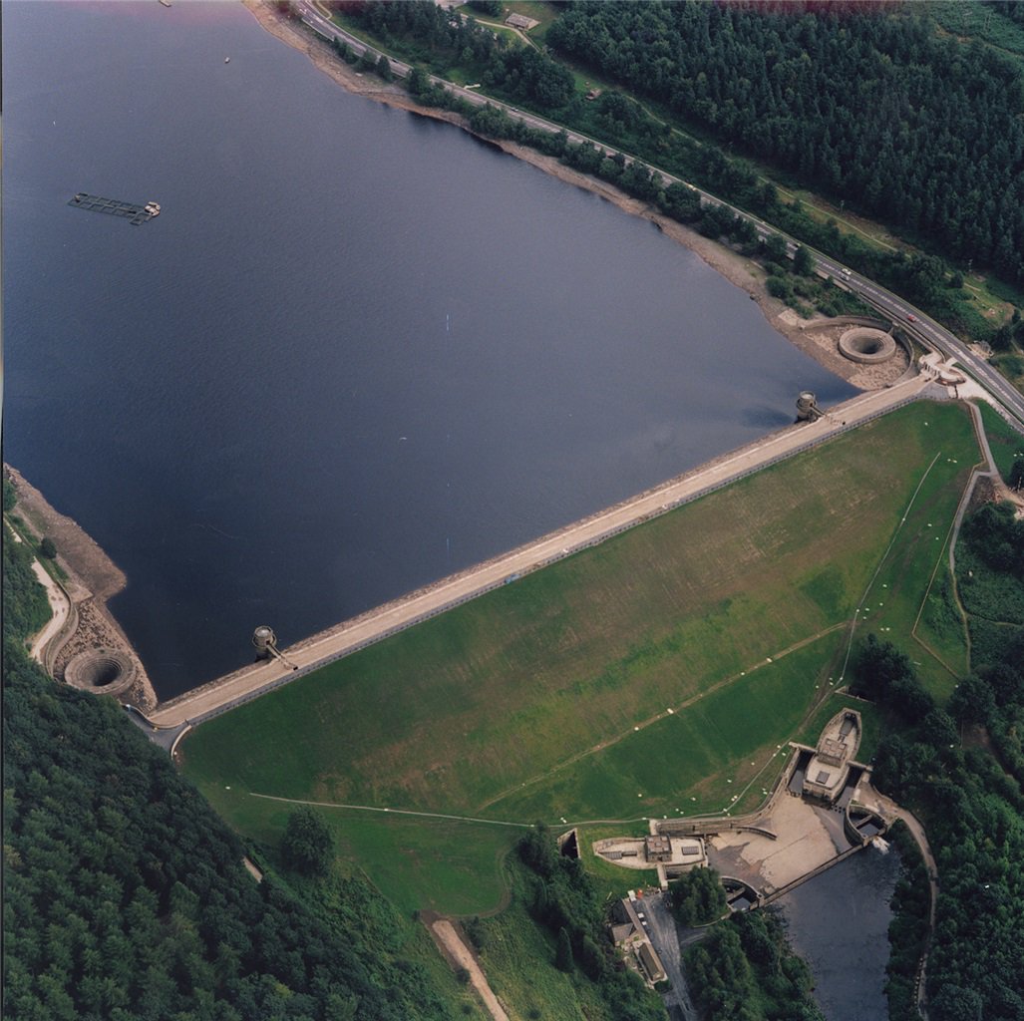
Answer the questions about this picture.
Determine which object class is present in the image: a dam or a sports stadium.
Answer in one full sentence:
Of the two, only a dam appears.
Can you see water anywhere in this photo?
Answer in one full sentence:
Yes, water can be seen from above here.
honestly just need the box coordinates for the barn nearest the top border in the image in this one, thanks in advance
[502,15,533,30]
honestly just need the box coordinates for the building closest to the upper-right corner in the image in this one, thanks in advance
[918,351,941,373]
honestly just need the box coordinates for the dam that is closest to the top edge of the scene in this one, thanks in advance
[133,373,922,724]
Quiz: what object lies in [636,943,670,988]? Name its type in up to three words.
house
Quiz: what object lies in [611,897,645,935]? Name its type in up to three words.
house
